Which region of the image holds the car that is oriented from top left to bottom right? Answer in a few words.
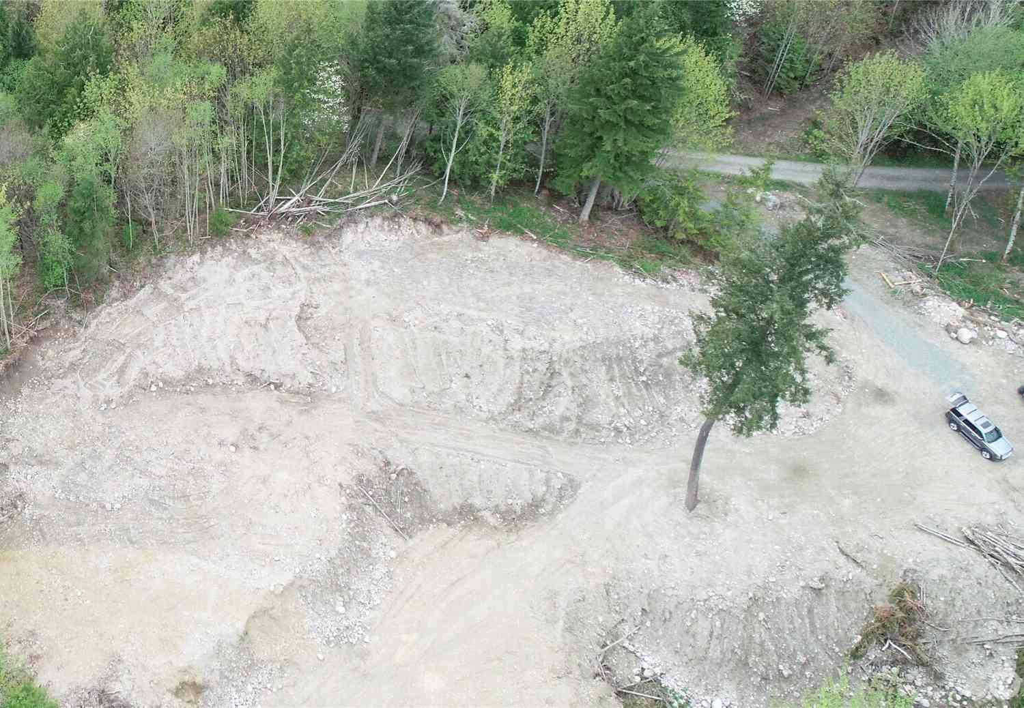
right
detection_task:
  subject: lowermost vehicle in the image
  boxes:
[948,388,1020,462]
